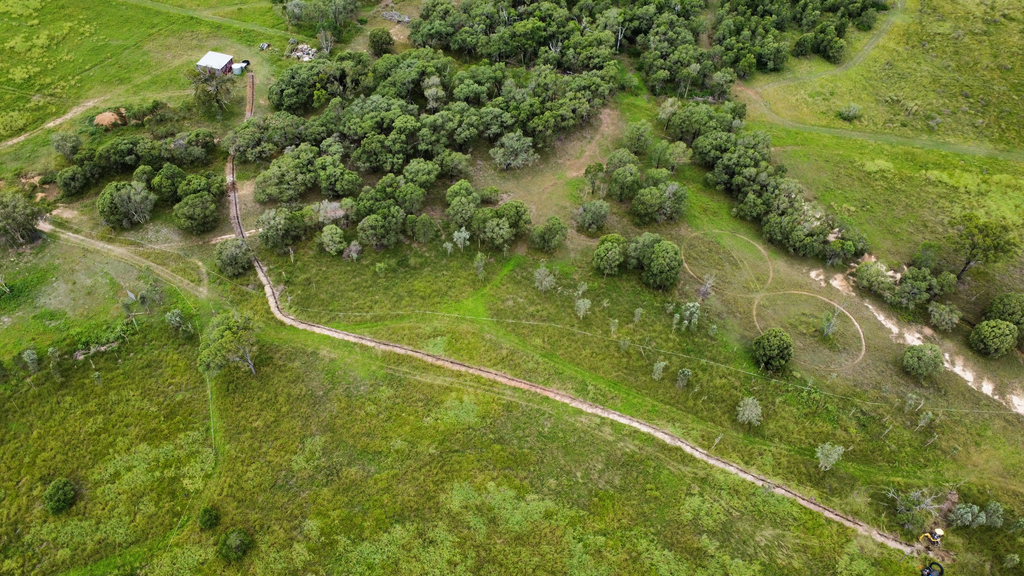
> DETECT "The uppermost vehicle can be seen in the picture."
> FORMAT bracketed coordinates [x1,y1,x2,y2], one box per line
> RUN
[918,528,948,551]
